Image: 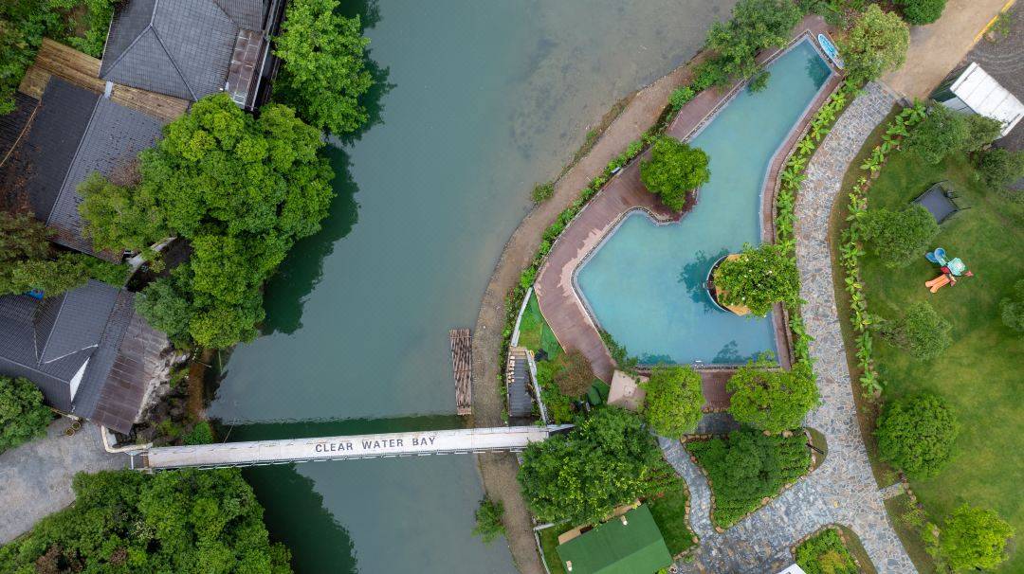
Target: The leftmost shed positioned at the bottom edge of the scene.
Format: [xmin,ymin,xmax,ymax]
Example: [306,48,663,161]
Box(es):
[556,496,681,574]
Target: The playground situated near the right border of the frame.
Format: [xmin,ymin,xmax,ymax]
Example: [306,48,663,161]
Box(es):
[925,247,977,293]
